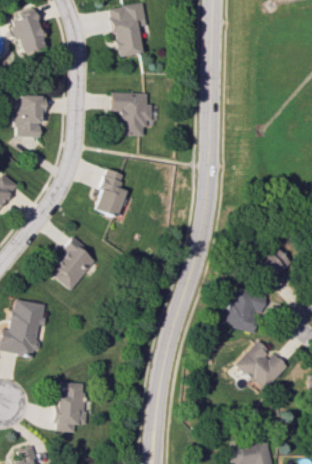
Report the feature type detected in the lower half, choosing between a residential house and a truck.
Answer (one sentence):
What appears in the lower half is a residential house.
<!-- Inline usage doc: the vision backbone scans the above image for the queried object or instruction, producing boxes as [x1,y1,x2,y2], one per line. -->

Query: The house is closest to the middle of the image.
[97,170,126,216]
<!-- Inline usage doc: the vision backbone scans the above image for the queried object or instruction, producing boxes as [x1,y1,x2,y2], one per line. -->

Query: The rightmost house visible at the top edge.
[108,2,148,58]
